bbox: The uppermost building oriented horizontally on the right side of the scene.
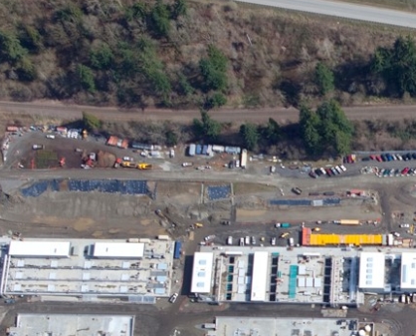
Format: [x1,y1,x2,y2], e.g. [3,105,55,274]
[189,248,416,305]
